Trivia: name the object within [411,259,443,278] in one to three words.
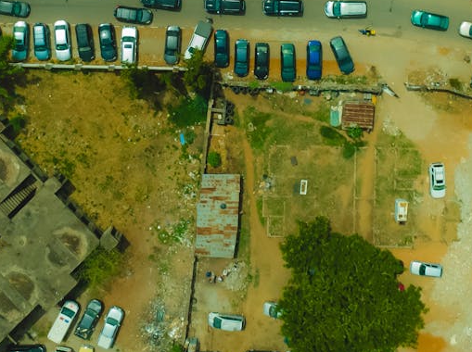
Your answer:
car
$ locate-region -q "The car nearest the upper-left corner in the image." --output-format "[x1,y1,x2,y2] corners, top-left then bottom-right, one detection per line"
[0,0,31,17]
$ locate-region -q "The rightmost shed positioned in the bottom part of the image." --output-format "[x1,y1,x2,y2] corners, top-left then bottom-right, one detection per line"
[195,171,240,258]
